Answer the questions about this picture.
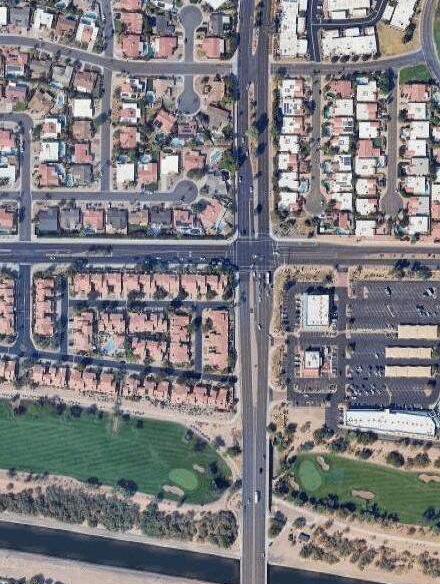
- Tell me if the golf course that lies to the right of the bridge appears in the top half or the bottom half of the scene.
bottom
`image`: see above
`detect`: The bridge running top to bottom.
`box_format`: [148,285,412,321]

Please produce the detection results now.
[241,391,268,584]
